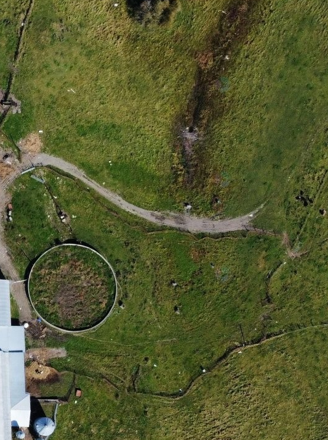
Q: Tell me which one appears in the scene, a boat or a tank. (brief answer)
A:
tank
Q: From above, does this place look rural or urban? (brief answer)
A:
rural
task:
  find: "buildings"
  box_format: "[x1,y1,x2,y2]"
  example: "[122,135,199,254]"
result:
[0,349,30,440]
[0,279,10,328]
